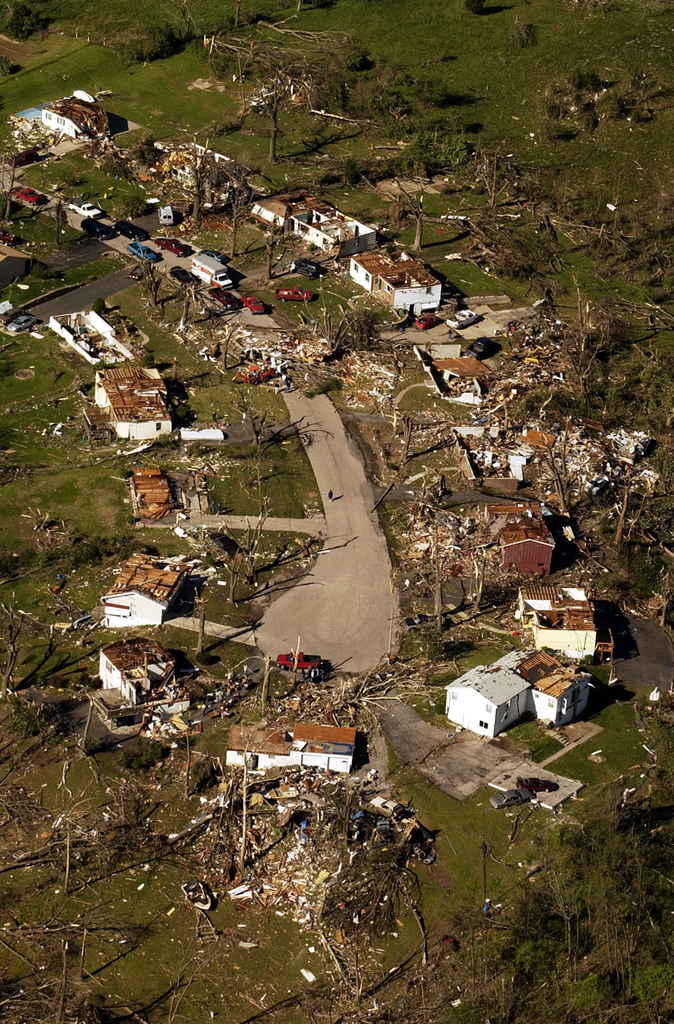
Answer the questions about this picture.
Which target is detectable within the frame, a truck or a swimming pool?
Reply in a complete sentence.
Visible in the photo is a truck.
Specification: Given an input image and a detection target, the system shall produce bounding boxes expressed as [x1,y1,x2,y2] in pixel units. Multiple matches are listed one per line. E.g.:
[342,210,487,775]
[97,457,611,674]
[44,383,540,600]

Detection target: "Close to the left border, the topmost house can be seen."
[14,93,105,138]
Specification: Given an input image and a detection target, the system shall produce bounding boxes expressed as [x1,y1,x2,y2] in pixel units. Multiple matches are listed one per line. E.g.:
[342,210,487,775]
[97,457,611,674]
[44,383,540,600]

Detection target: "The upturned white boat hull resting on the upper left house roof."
[68,85,93,101]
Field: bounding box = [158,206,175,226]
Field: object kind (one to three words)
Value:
vehicle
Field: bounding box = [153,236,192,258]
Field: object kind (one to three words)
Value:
truck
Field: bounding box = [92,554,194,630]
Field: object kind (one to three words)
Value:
house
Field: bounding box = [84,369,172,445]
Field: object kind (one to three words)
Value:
house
